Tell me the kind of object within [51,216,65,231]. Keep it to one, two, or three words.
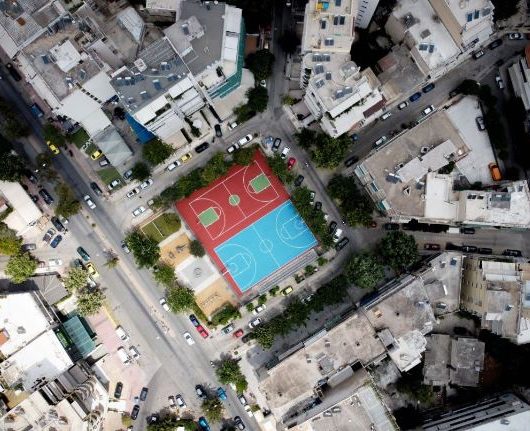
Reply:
car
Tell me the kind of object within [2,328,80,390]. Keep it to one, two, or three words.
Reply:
building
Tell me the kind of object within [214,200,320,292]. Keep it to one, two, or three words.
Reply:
basketball court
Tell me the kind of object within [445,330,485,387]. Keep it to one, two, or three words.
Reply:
house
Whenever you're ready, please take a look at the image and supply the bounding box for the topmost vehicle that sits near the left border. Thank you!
[7,66,20,81]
